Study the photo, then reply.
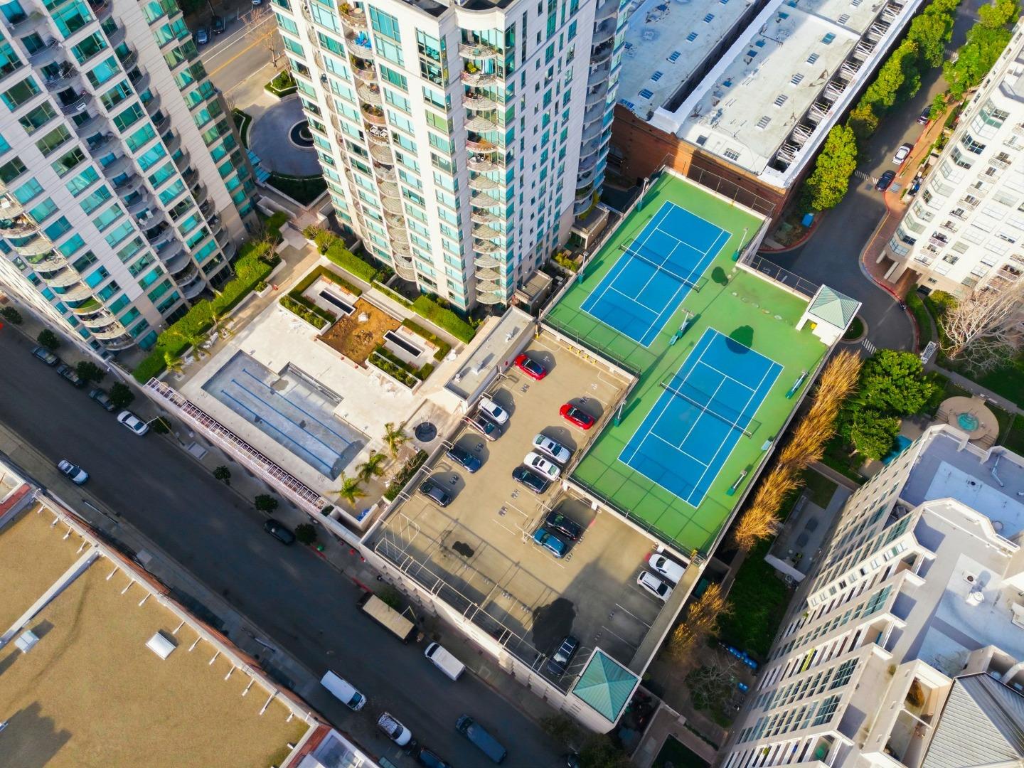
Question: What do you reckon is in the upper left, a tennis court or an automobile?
automobile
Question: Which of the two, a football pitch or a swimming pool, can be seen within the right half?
swimming pool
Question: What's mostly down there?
buildings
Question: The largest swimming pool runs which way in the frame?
diagonally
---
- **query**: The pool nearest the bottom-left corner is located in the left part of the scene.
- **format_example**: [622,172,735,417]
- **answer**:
[200,347,372,483]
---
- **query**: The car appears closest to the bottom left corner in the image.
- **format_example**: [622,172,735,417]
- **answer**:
[58,456,91,485]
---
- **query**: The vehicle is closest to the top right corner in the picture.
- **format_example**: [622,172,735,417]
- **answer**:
[918,104,936,125]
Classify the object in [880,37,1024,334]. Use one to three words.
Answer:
building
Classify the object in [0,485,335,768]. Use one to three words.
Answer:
building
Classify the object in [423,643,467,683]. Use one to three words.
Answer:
van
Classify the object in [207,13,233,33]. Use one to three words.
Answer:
car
